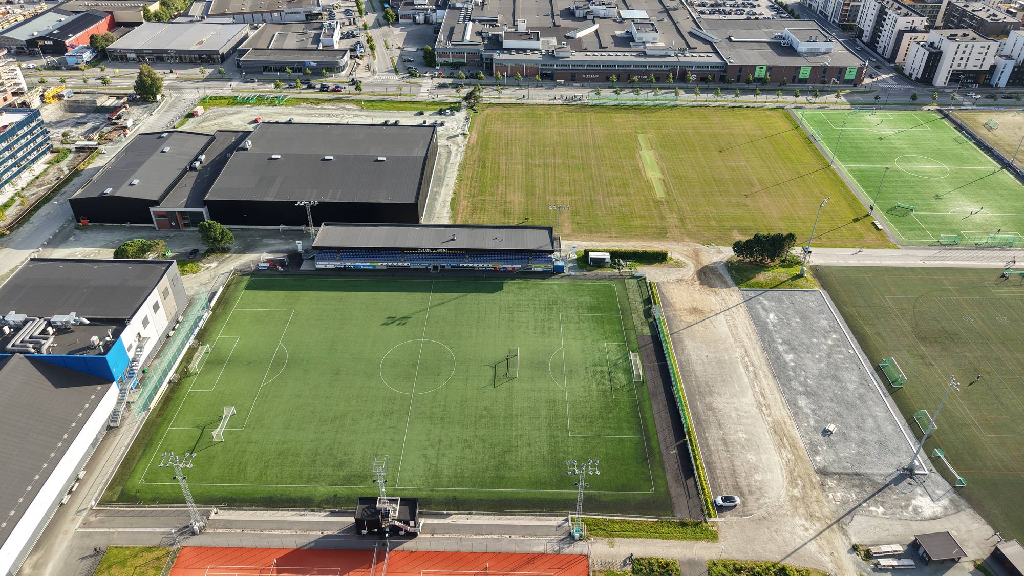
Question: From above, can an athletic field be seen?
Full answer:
Yes, the photo shows an athletic field.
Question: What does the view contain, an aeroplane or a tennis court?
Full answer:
Visible in the photo is a tennis court.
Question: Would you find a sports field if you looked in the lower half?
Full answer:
Yes, in the lower half there is a sports field.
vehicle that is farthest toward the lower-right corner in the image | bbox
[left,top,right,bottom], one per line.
[717,498,743,510]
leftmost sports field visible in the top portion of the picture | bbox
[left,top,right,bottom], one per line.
[451,105,895,247]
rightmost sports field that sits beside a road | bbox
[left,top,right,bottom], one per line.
[793,110,1024,248]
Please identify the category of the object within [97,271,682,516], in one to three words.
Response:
sports field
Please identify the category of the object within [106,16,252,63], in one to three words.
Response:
building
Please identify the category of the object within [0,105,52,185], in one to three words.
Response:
house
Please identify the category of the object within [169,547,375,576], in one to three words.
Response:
tennis court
